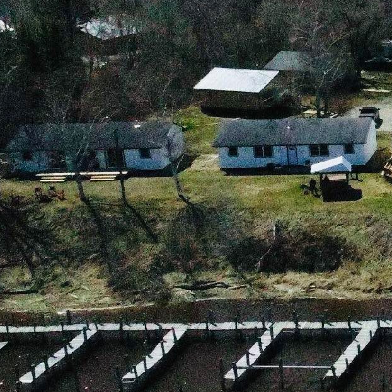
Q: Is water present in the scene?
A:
Yes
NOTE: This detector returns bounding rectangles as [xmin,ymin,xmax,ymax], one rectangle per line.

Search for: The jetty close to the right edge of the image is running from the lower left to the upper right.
[324,321,379,388]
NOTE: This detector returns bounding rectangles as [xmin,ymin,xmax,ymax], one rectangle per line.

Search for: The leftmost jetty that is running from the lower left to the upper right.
[18,325,98,392]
